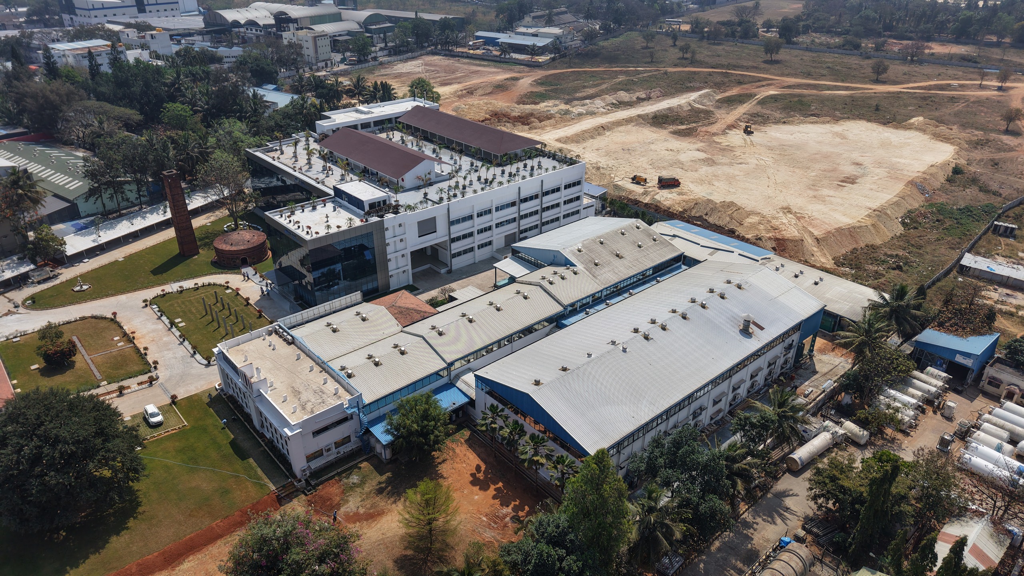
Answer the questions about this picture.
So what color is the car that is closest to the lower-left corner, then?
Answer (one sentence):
From above, the car that is closest to the lower-left corner appears white.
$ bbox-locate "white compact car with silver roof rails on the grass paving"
[140,397,163,423]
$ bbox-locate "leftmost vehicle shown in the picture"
[24,264,60,283]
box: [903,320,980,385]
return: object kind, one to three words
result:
shed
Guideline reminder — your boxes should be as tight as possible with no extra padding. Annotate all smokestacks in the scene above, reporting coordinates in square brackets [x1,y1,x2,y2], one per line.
[160,172,201,257]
